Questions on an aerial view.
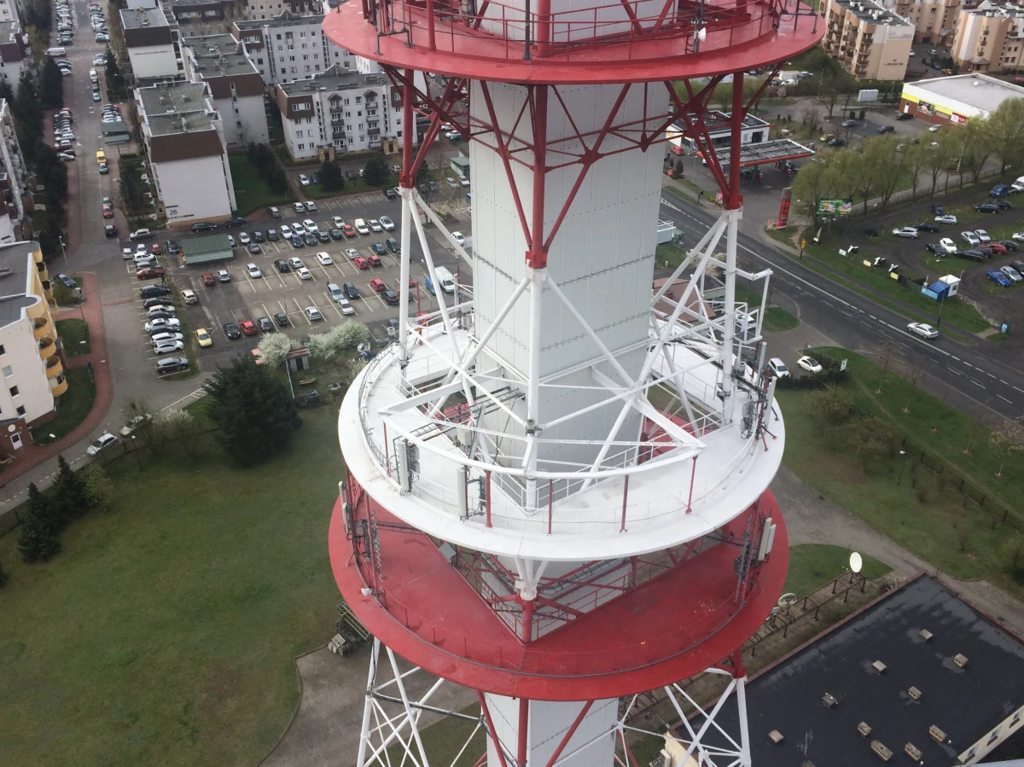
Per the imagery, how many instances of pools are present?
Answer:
none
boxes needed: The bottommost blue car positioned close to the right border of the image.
[982,271,1015,287]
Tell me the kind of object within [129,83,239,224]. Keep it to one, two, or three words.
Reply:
building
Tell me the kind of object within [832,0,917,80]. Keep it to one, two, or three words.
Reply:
building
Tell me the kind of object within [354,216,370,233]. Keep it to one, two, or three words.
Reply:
vehicle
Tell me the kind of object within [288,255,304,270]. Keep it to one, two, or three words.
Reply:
car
